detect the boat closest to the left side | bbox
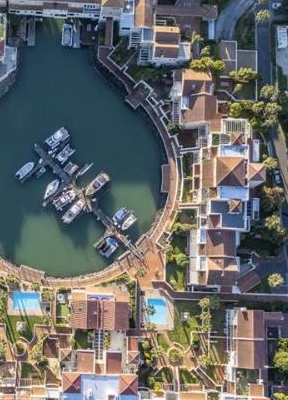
[14,163,34,181]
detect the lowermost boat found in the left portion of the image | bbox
[104,237,121,256]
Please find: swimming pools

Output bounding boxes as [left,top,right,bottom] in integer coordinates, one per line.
[146,297,169,325]
[12,290,42,311]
